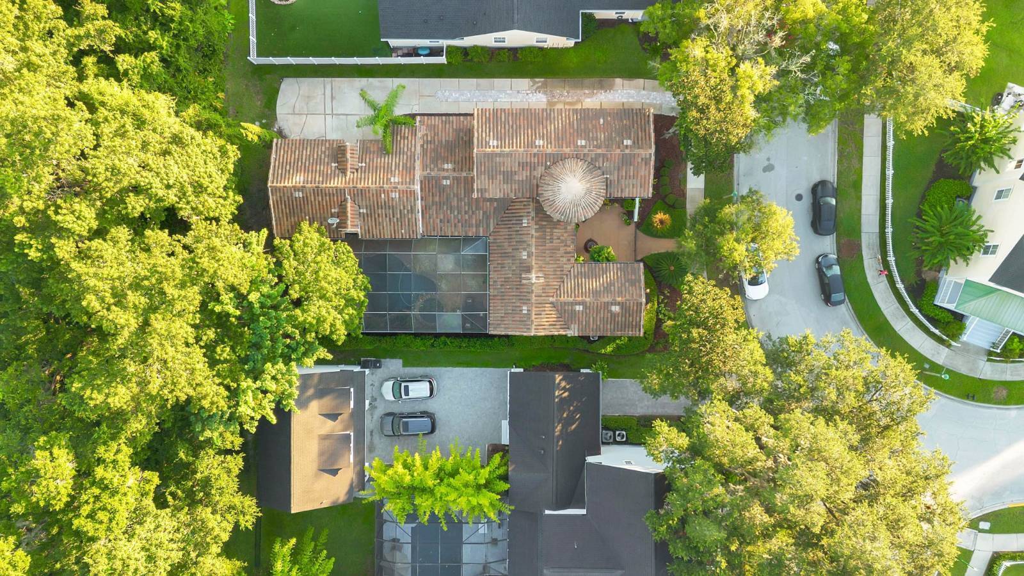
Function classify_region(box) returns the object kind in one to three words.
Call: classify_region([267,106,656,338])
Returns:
house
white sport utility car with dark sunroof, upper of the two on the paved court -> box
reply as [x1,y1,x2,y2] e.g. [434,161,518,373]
[383,375,437,402]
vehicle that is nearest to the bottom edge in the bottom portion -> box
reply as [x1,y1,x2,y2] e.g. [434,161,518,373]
[382,410,437,437]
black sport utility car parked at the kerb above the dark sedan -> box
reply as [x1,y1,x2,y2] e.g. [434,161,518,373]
[808,181,838,236]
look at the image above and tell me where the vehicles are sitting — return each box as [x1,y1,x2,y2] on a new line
[808,181,838,236]
[743,246,771,300]
[813,254,842,306]
[382,410,437,437]
[383,375,437,402]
